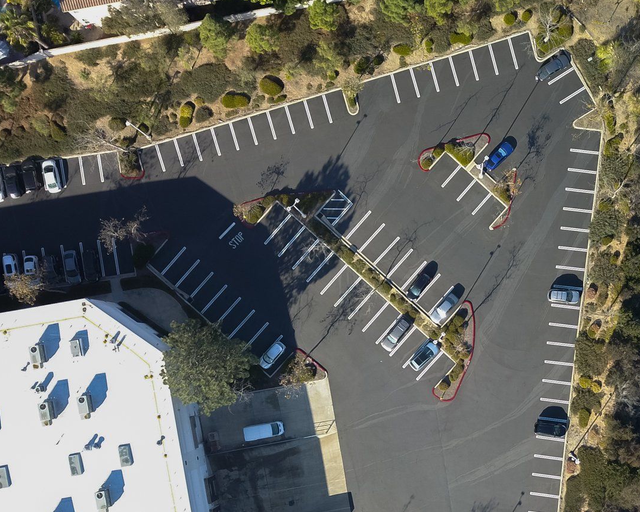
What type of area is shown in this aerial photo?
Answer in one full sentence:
The picture captures a parking lot.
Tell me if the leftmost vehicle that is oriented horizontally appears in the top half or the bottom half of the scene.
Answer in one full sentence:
Seen from above, the leftmost vehicle that is oriented horizontally lies in the bottom half of the view.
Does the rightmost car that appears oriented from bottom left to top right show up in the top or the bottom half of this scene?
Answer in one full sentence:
The rightmost car that appears oriented from bottom left to top right sits in the top half of the picture.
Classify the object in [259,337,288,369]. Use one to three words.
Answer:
car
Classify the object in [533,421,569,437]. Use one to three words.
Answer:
car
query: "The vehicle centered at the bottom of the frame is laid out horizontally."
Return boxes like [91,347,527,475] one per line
[241,422,285,442]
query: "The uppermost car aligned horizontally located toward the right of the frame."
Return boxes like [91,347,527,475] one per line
[546,288,582,305]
